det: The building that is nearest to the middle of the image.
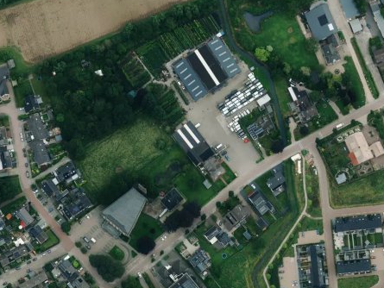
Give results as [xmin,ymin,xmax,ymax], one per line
[174,121,215,165]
